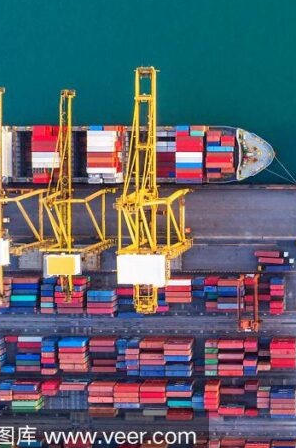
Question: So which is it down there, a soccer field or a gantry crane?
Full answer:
Visible in the photo is a gantry crane.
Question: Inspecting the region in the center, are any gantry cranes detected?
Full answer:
Yes, you'll find a gantry crane in the center.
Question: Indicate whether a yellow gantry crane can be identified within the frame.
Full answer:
Yes, there is a yellow gantry crane in the image.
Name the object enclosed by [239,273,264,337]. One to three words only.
container crane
